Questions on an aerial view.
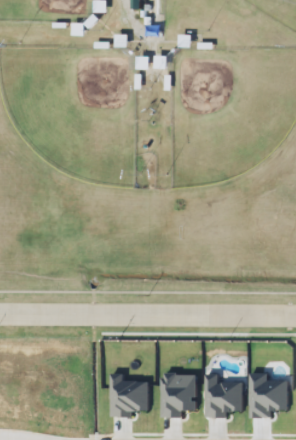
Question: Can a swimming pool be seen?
Yes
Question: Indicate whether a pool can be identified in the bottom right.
Yes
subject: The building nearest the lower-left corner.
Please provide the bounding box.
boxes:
[110,374,150,418]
